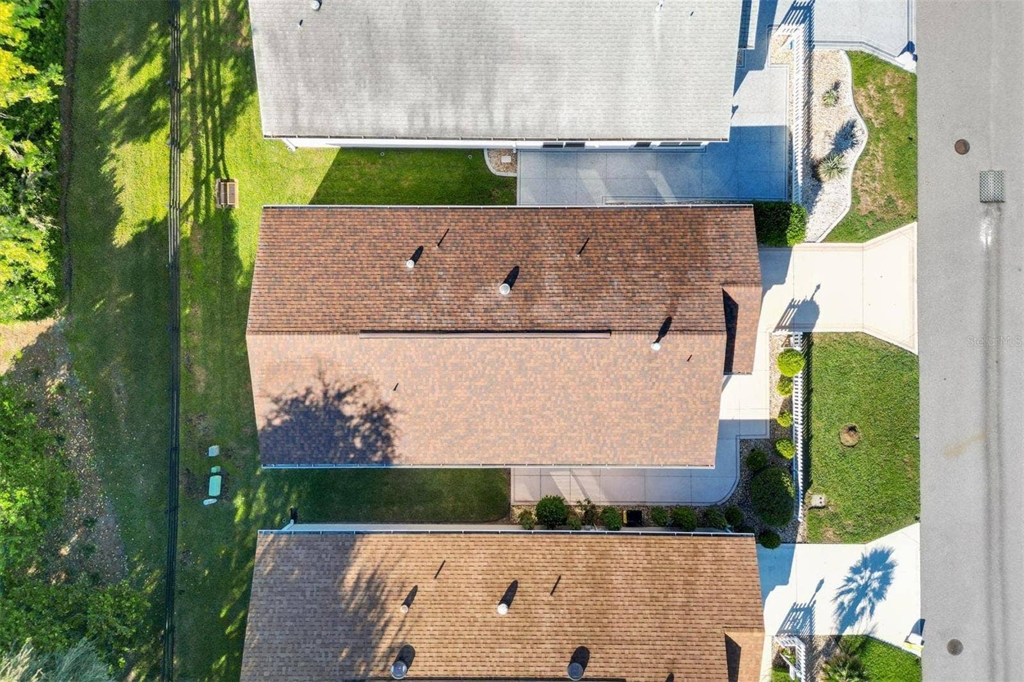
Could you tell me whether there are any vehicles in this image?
No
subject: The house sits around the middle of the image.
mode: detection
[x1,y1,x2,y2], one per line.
[247,202,761,470]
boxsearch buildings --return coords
[251,0,763,156]
[244,504,768,682]
[247,202,761,470]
